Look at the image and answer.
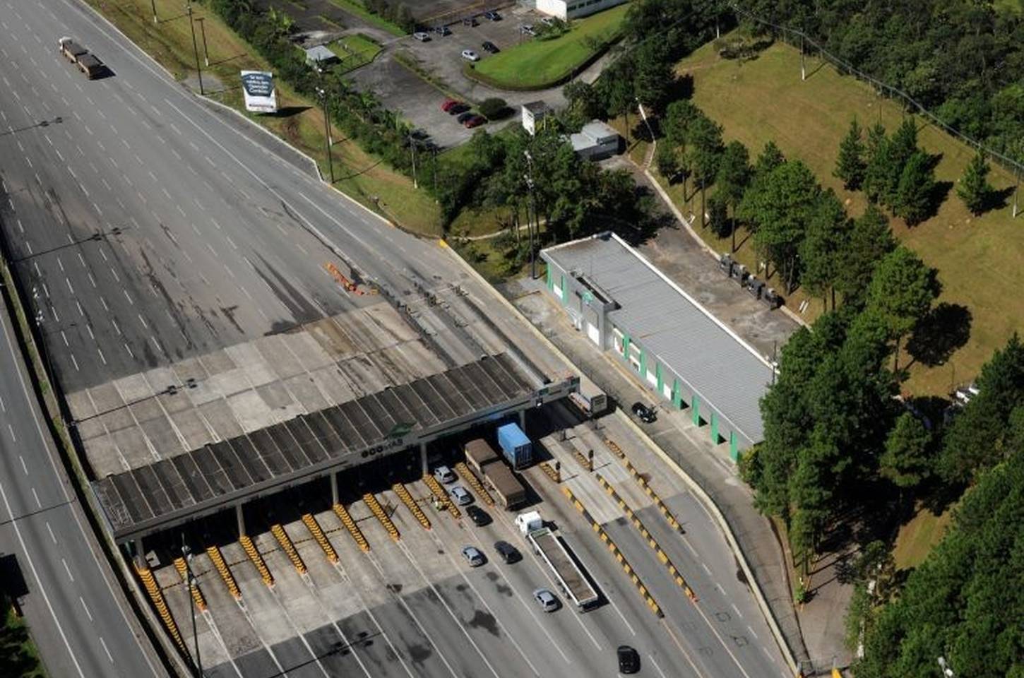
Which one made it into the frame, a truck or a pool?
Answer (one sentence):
There is a truck in the scene.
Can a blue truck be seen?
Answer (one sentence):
Yes, there's a blue truck here.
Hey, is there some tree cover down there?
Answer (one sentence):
Yes, tree cover can be seen from above here.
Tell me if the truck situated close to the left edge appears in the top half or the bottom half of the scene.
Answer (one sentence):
The truck situated close to the left edge sits in the top half of the picture.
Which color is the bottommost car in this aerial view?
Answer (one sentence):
The bottommost car is black.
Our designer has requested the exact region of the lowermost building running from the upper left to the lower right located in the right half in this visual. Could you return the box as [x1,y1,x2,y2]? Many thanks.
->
[545,226,824,476]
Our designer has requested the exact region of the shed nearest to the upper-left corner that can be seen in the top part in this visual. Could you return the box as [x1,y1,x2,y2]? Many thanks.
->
[305,45,339,75]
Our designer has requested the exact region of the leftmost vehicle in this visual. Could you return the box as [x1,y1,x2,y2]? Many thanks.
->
[49,40,104,84]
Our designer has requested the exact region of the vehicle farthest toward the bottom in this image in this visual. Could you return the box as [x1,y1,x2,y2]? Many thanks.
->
[617,646,638,675]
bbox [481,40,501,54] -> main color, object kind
black car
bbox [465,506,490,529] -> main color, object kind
black car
